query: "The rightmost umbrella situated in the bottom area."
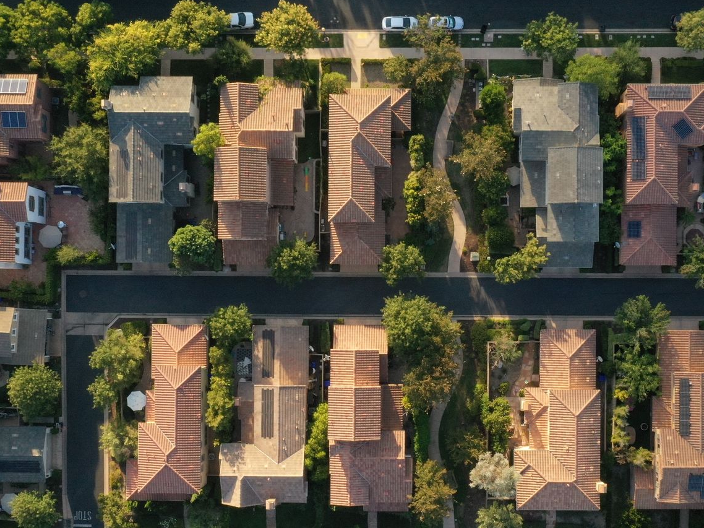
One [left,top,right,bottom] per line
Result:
[128,390,145,410]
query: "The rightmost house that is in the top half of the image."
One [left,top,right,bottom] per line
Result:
[605,82,704,267]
